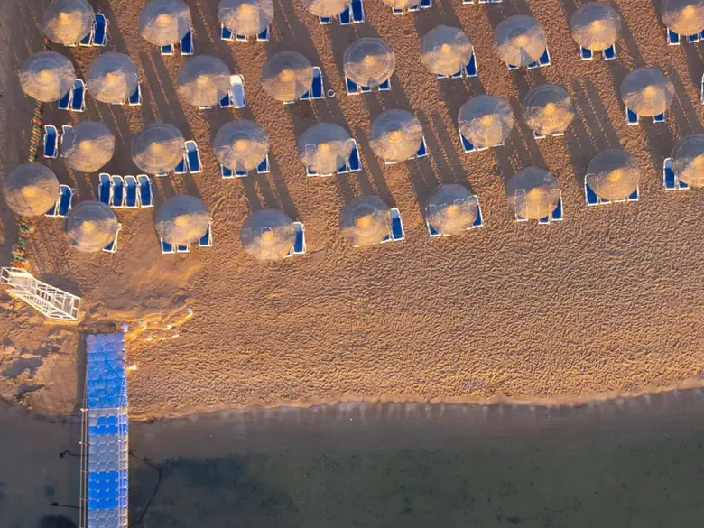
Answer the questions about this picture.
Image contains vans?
No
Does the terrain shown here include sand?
Yes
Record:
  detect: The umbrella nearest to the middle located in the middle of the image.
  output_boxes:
[338,196,394,248]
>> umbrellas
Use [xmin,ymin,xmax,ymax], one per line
[131,123,186,175]
[587,150,641,201]
[505,167,561,219]
[425,185,479,236]
[61,122,116,173]
[621,68,676,118]
[212,120,269,173]
[492,16,548,67]
[301,0,351,17]
[42,0,97,43]
[18,52,76,103]
[669,134,704,185]
[419,26,473,76]
[457,95,514,148]
[369,111,424,161]
[217,0,273,36]
[342,37,397,87]
[570,3,623,50]
[139,0,193,46]
[660,0,704,35]
[2,162,60,217]
[65,200,121,254]
[297,123,354,177]
[176,55,232,106]
[521,86,574,134]
[338,196,394,248]
[259,53,314,102]
[86,53,140,102]
[239,208,296,261]
[155,193,210,245]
